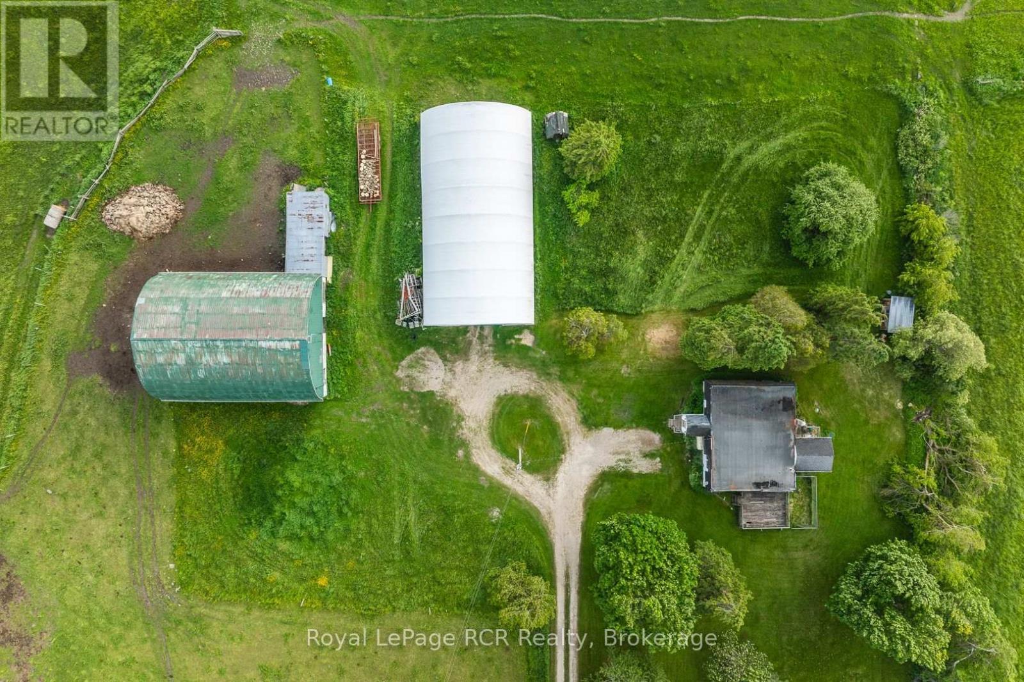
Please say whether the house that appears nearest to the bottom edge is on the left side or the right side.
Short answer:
right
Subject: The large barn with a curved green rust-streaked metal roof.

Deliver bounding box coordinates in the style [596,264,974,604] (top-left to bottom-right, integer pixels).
[130,272,328,403]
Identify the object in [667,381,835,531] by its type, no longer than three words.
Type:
house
